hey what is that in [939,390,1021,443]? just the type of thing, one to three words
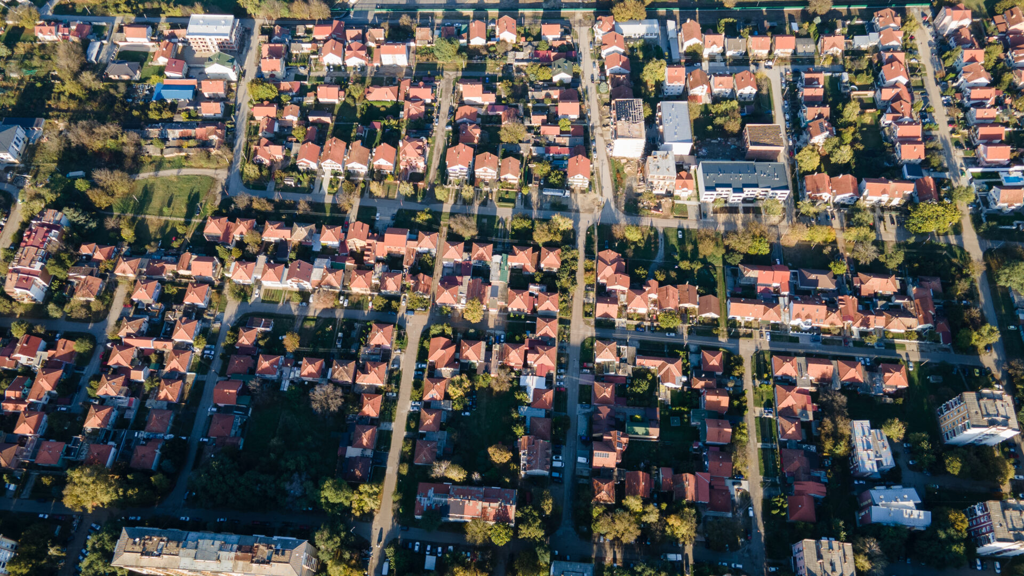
building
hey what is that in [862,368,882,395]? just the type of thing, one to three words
shed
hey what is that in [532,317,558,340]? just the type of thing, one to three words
house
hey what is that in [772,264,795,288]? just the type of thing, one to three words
house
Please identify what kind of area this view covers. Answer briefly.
residential area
